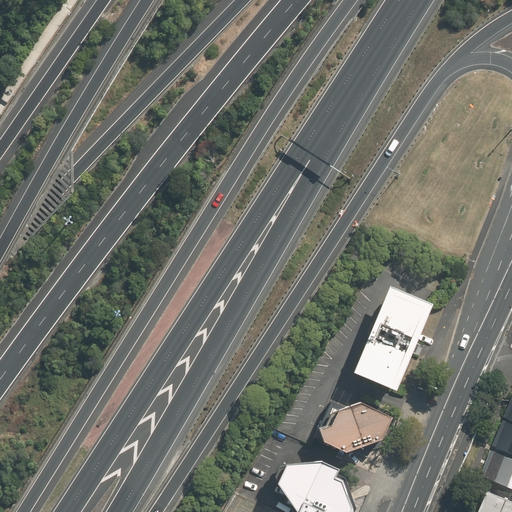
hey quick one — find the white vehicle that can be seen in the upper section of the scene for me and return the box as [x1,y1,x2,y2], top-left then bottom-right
[384,138,399,156]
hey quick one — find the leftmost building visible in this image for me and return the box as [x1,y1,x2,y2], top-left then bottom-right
[276,459,354,512]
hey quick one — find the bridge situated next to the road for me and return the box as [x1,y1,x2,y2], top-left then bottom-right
[0,0,162,276]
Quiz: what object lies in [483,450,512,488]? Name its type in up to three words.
house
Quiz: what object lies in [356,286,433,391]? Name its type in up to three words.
building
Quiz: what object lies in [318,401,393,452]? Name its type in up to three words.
building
